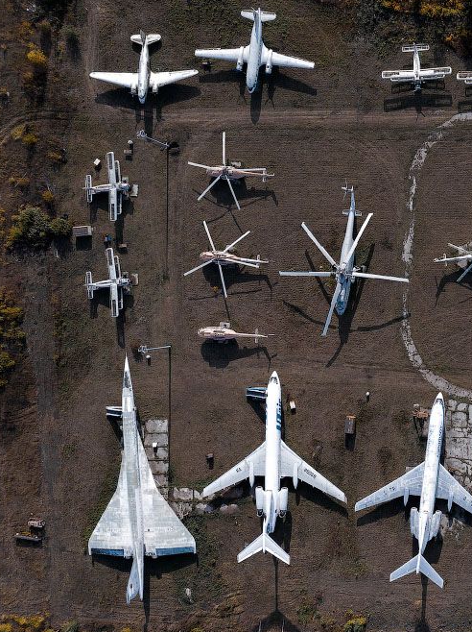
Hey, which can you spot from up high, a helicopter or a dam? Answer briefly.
helicopter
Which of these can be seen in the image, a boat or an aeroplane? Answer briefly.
aeroplane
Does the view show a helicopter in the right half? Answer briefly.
Yes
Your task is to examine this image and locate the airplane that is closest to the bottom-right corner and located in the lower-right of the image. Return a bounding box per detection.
[357,393,472,587]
